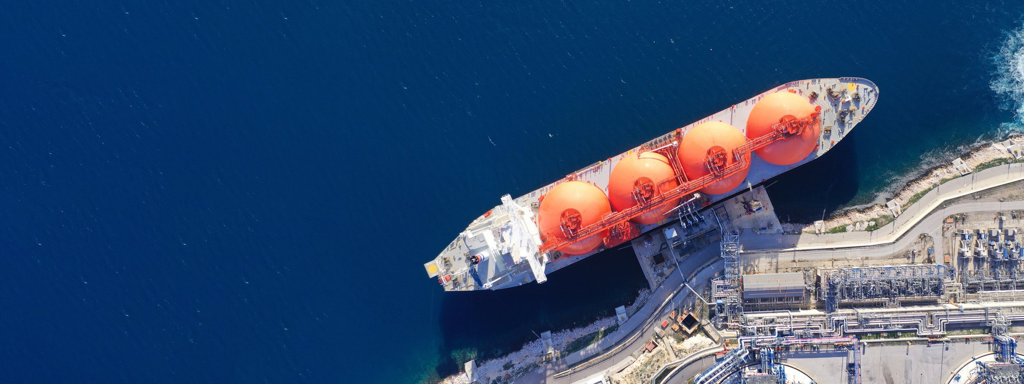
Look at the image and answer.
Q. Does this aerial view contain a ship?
Yes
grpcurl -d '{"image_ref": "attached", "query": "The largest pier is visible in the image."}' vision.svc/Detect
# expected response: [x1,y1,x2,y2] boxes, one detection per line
[631,185,784,292]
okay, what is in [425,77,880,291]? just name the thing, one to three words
ship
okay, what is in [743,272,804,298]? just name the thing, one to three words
shed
